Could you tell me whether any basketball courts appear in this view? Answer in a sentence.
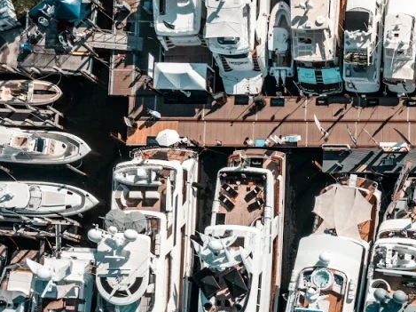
No, the picture doesn't show any basketball court.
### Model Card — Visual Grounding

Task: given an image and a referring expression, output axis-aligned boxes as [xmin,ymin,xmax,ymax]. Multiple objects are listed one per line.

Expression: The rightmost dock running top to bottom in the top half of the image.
[109,0,154,95]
